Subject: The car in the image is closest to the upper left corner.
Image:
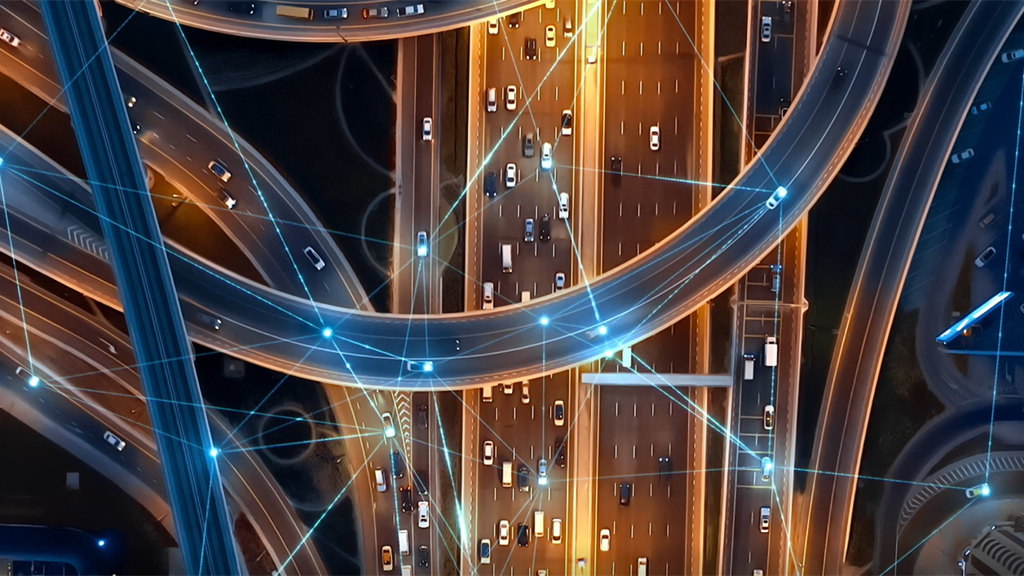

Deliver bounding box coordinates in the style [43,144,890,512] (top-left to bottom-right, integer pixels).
[0,27,23,48]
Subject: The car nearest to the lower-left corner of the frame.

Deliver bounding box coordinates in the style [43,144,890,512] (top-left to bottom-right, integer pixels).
[101,430,128,451]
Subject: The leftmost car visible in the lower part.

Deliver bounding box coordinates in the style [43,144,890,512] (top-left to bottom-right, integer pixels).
[14,366,41,386]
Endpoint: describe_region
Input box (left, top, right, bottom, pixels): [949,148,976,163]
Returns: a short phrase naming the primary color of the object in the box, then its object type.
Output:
blue car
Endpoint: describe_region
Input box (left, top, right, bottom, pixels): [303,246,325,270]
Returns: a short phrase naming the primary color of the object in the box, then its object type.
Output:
black car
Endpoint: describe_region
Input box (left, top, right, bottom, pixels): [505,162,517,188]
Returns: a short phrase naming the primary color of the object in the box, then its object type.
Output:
white vehicle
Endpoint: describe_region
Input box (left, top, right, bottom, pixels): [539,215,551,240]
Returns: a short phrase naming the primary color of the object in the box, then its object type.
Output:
black vehicle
